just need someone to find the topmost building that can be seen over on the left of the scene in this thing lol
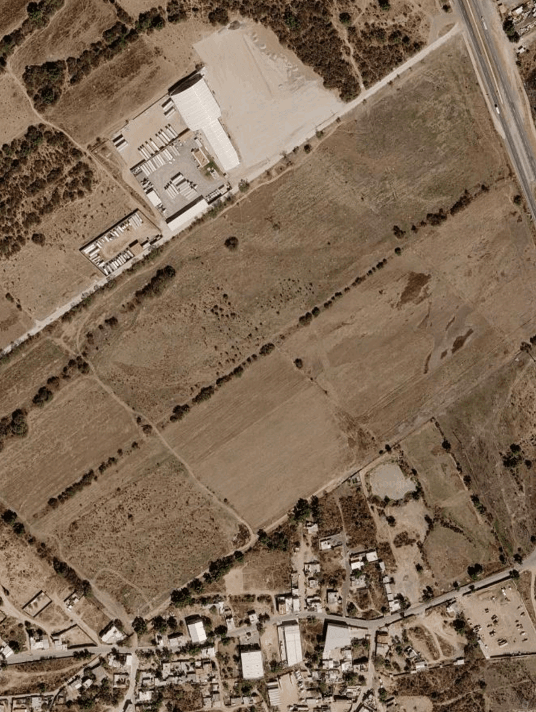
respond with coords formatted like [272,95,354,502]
[171,75,220,128]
